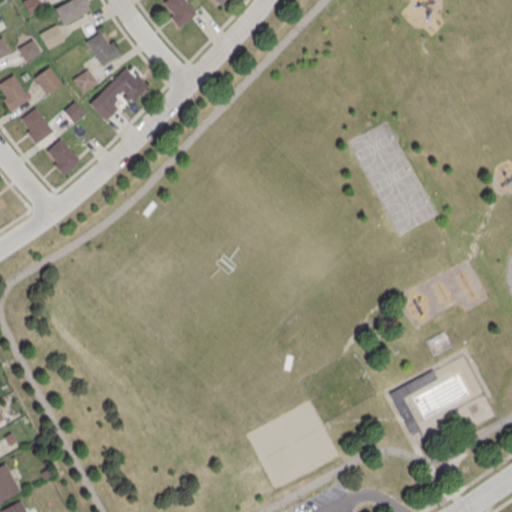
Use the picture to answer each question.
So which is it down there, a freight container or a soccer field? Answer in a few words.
soccer field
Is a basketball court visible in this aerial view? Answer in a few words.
Yes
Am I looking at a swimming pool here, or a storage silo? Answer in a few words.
swimming pool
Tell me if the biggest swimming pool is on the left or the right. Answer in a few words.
right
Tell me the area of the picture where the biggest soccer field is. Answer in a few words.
center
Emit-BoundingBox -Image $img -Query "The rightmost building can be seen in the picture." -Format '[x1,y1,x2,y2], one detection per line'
[391,372,437,436]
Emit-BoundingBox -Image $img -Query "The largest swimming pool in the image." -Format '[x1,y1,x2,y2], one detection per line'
[388,356,496,454]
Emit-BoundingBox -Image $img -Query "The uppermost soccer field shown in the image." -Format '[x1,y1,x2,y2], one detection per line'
[103,127,356,380]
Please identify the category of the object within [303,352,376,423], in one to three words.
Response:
sports field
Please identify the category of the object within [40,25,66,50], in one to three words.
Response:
building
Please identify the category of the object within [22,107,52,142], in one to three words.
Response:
house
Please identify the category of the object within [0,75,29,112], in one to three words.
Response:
house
